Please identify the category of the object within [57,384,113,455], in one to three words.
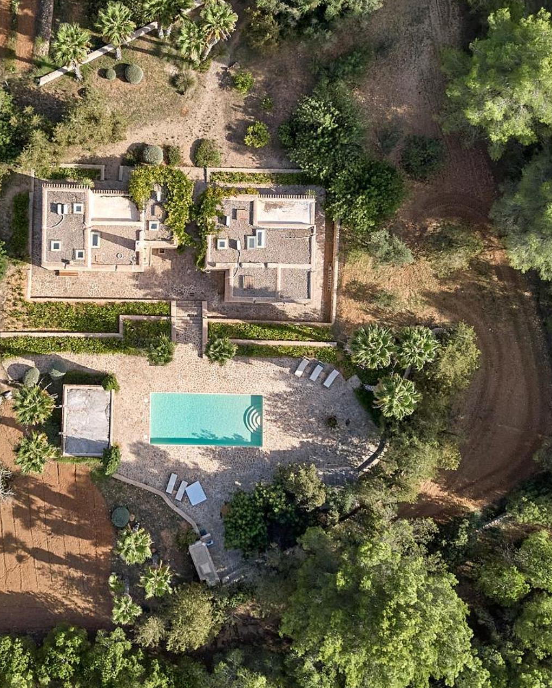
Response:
shed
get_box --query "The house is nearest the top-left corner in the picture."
[42,183,178,274]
